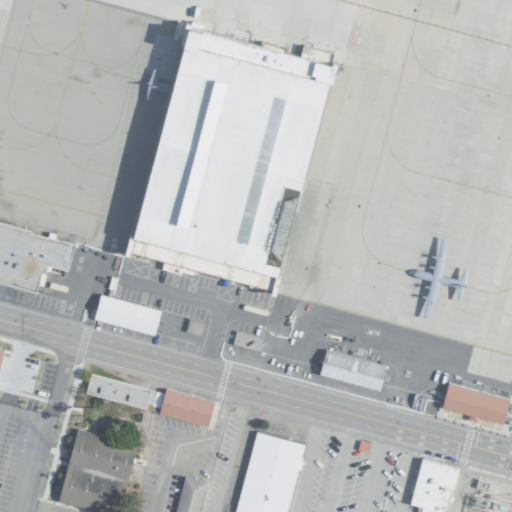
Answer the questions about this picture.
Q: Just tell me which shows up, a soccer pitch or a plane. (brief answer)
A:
plane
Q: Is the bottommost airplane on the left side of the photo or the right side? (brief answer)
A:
right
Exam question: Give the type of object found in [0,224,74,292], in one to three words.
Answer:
building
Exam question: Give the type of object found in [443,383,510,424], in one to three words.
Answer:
building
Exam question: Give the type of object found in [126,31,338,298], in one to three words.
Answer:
hangar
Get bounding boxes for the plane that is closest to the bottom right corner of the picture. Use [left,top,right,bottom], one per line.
[414,239,468,319]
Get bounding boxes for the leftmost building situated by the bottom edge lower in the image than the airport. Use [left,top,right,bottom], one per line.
[60,429,137,512]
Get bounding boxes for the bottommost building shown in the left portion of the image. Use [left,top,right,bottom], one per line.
[176,477,208,512]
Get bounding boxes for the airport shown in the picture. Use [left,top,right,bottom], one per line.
[0,0,512,382]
